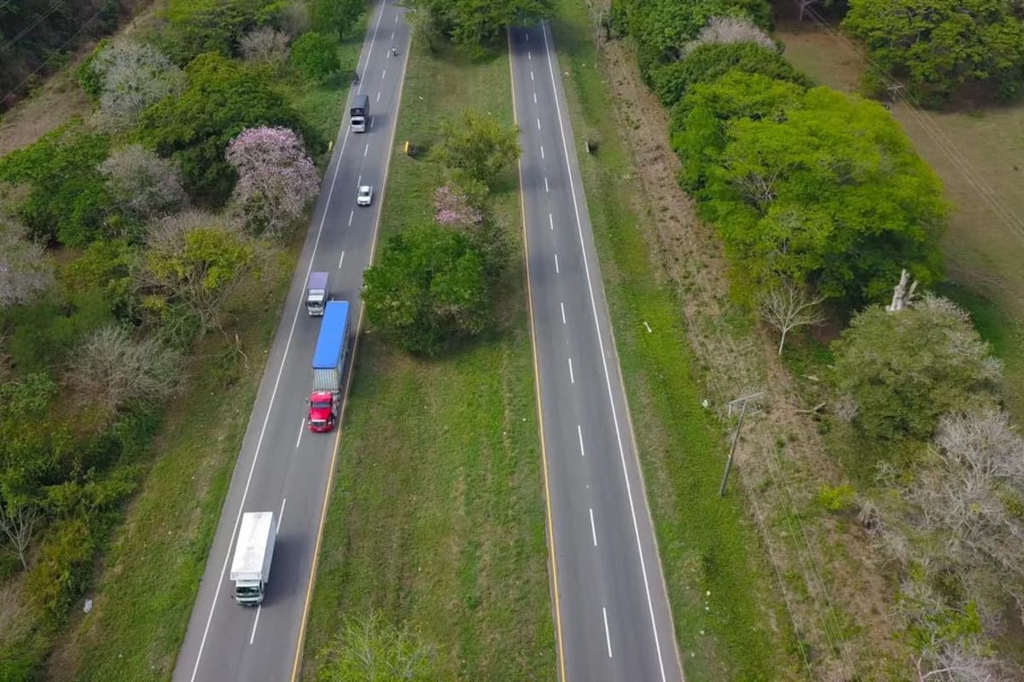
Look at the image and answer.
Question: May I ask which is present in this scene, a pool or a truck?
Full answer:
Of the two, only a truck appears.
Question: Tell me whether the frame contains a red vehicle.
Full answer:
Yes, there's a red vehicle down there.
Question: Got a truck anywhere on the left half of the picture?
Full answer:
Yes, you'll find a truck on the left half of the picture.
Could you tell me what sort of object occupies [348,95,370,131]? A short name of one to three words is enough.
truck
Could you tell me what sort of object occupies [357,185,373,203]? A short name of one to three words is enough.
car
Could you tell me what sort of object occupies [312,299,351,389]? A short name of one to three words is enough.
trailer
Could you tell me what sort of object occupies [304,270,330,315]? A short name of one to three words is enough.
truck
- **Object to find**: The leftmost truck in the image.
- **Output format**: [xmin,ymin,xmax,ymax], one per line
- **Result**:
[231,510,277,605]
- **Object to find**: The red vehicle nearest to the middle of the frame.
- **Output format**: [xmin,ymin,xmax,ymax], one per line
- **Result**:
[307,385,342,431]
